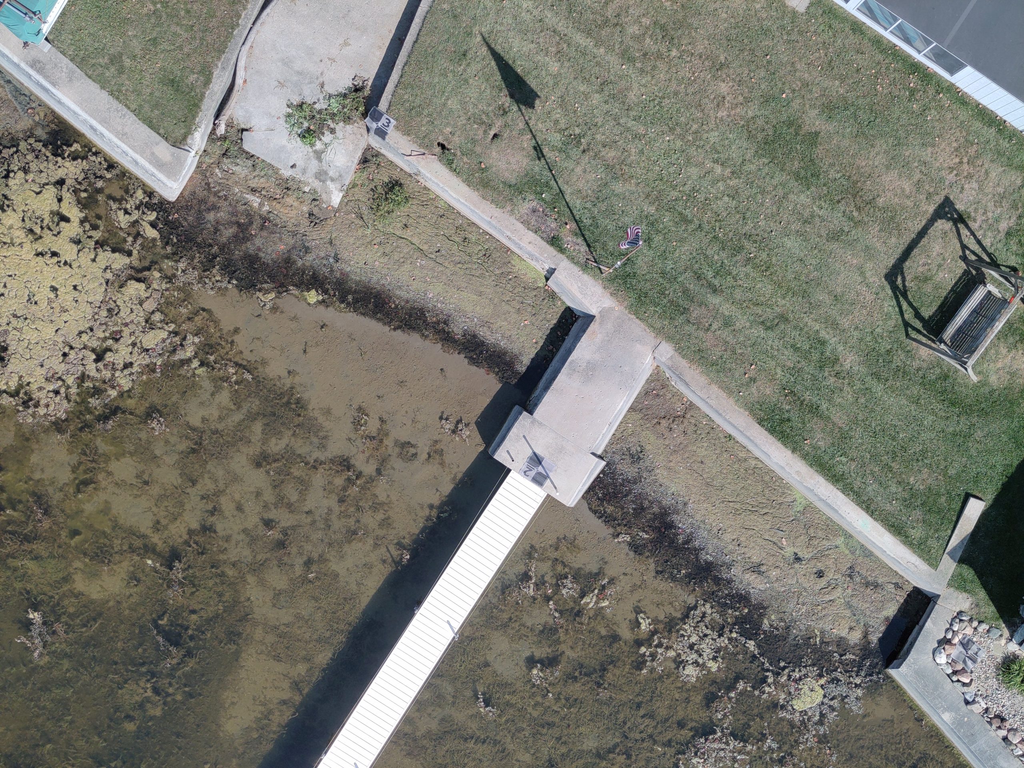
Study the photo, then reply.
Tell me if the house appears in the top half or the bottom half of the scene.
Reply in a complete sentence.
It is in the top half that the house appears.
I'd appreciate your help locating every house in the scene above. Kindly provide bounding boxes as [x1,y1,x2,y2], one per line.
[832,0,1024,133]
